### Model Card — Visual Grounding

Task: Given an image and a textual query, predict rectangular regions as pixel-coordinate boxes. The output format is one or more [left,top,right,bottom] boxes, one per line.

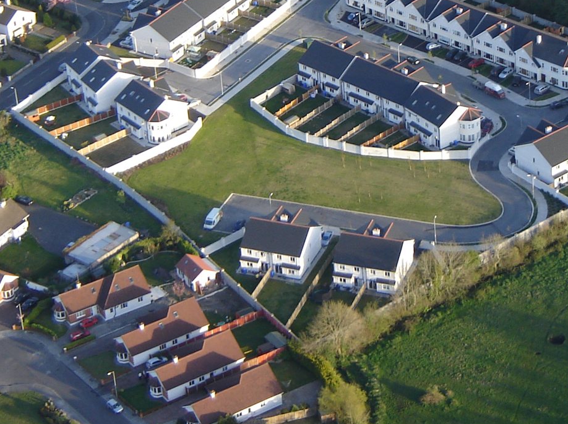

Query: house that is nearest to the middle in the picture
[238,205,322,282]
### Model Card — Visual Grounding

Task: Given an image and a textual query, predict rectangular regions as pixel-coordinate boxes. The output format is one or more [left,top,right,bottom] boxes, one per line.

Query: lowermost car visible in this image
[103,395,125,411]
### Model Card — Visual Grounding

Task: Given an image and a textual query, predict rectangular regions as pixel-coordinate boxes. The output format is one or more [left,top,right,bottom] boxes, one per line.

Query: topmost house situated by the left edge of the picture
[0,0,38,45]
